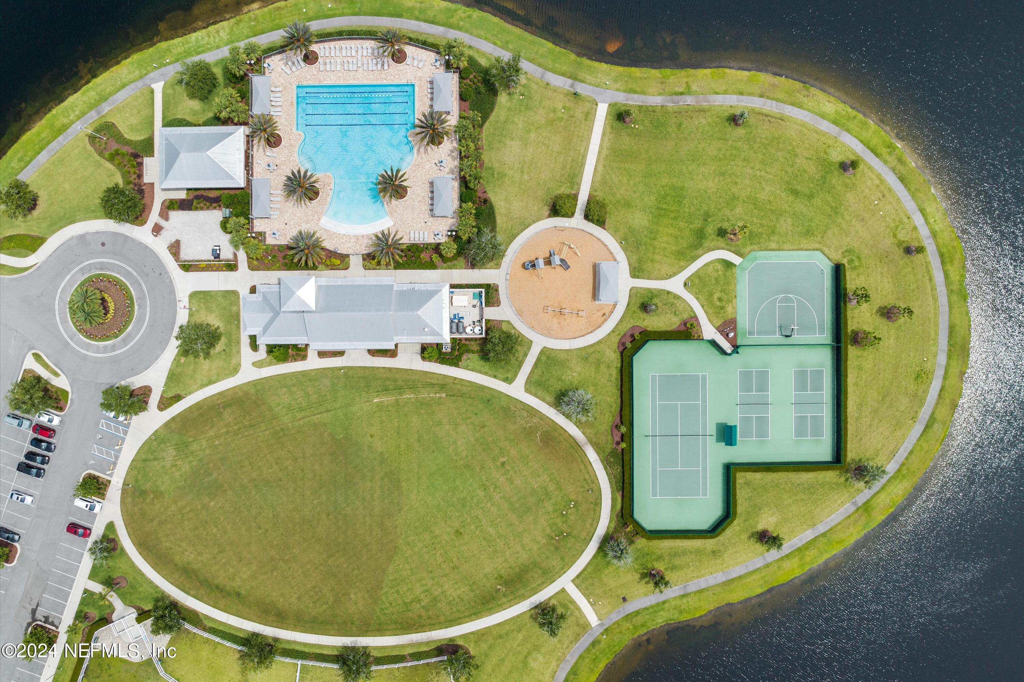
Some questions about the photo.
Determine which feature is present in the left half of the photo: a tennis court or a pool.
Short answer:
pool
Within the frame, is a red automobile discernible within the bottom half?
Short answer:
Yes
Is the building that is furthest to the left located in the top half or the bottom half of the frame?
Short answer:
top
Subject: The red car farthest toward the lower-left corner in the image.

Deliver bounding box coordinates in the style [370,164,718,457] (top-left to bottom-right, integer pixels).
[65,522,94,538]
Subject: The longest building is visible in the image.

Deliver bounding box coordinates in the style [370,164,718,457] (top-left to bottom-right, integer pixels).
[243,276,450,352]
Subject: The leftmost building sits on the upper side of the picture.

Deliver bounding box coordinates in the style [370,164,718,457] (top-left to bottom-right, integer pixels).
[159,125,249,191]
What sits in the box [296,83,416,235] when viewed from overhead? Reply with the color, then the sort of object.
blue swimming pool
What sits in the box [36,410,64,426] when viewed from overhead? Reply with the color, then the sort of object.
white car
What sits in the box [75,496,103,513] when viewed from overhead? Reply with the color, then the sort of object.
white car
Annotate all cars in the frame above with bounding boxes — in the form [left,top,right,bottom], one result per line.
[33,423,59,439]
[12,401,40,416]
[65,522,94,538]
[23,449,52,466]
[75,496,103,513]
[31,436,58,452]
[8,489,37,505]
[2,412,34,430]
[0,526,23,542]
[36,410,64,426]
